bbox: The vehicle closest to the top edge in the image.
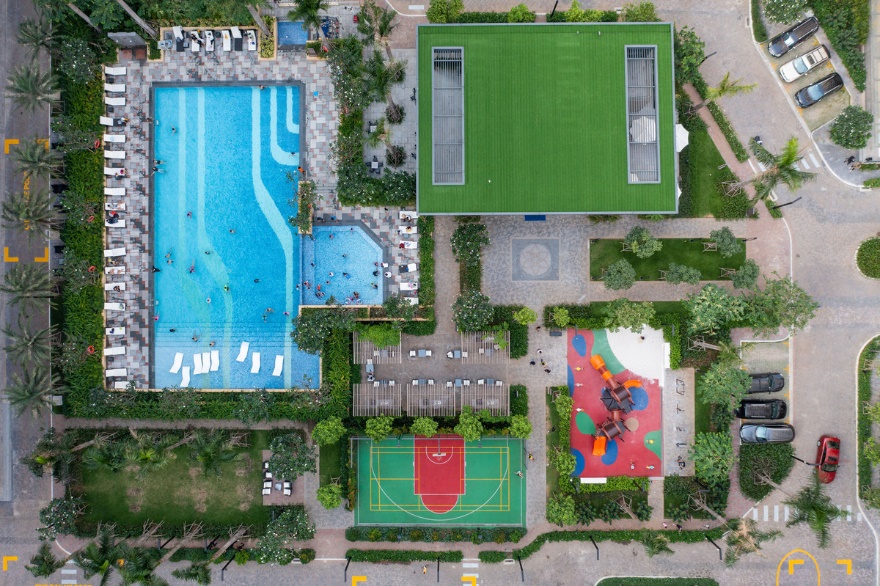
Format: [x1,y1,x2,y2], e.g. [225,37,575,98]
[767,16,820,57]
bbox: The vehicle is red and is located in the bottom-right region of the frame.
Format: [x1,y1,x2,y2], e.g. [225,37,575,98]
[811,433,840,482]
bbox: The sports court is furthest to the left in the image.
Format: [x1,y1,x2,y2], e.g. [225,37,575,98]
[357,439,527,528]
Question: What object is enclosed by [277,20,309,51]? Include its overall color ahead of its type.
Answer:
blue swimming pool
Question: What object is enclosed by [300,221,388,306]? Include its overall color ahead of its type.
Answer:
blue swimming pool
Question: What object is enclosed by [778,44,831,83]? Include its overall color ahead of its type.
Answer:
white car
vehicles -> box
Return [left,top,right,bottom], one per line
[778,44,831,83]
[740,370,785,394]
[767,16,820,57]
[738,421,794,445]
[736,397,785,421]
[792,70,845,110]
[811,433,840,482]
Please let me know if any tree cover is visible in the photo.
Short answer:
Yes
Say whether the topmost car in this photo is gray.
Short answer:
Yes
